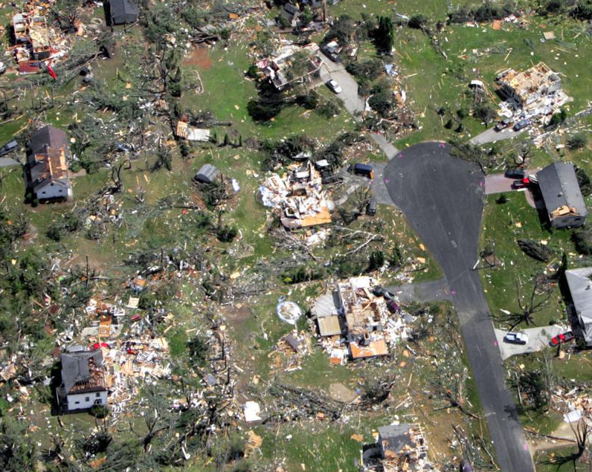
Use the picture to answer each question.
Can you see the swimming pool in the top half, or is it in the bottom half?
bottom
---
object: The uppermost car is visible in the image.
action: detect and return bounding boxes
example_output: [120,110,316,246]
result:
[325,43,342,60]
